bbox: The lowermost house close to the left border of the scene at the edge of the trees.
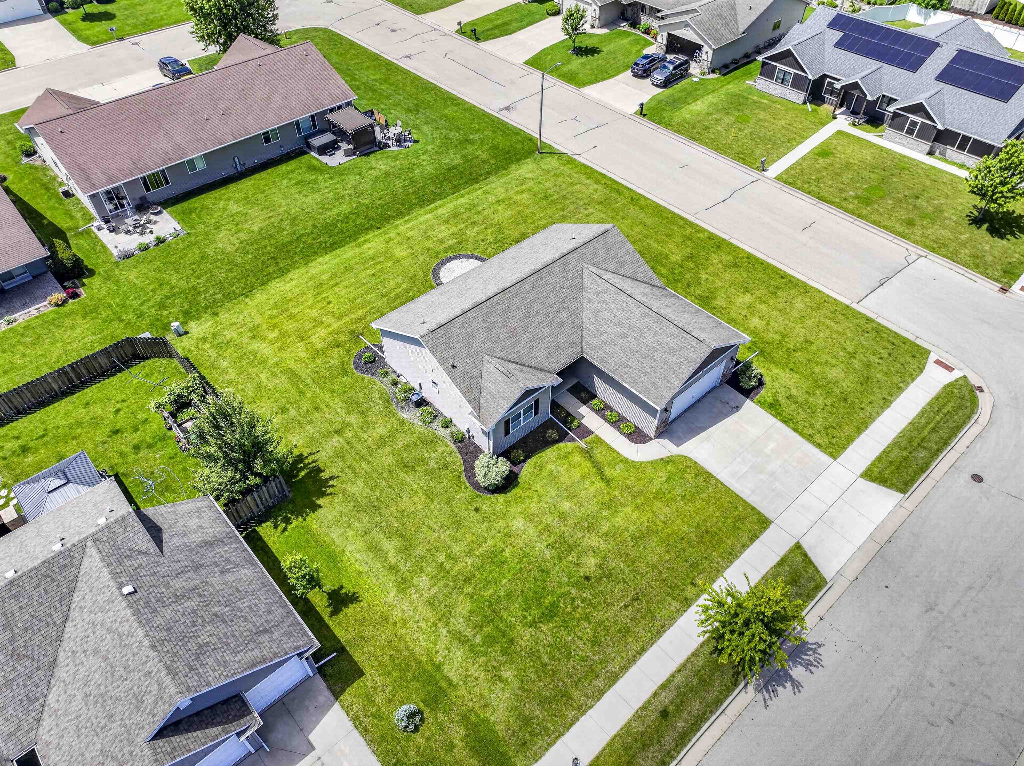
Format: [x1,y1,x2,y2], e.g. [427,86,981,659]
[0,475,328,766]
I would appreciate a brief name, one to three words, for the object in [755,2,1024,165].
house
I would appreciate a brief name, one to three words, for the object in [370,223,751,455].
house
